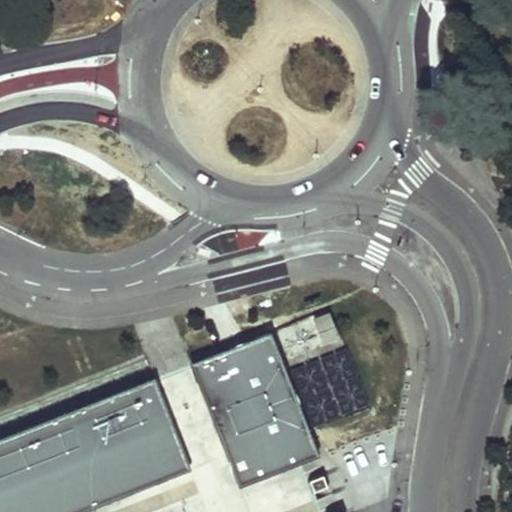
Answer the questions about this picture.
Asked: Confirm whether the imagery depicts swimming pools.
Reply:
No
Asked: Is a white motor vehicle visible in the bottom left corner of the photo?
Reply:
No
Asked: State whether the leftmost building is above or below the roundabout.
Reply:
below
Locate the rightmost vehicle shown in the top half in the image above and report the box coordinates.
[389,140,405,161]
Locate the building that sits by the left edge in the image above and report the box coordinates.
[0,380,190,512]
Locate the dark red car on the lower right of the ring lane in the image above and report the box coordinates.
[348,140,366,161]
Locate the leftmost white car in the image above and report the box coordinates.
[195,171,218,188]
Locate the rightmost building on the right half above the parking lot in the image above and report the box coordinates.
[278,312,370,428]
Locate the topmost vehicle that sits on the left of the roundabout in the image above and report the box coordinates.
[96,113,118,126]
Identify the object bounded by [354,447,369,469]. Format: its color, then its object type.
white vehicle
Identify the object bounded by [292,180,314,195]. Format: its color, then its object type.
white car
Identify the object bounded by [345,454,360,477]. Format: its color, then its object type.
white vehicle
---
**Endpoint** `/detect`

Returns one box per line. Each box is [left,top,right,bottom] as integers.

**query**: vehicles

[345,454,360,477]
[389,140,405,161]
[376,445,388,467]
[96,113,118,126]
[354,447,369,469]
[292,180,314,195]
[348,140,366,161]
[195,171,218,188]
[392,500,403,512]
[370,78,380,98]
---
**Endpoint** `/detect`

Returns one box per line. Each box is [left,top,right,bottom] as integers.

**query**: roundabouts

[118,0,419,226]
